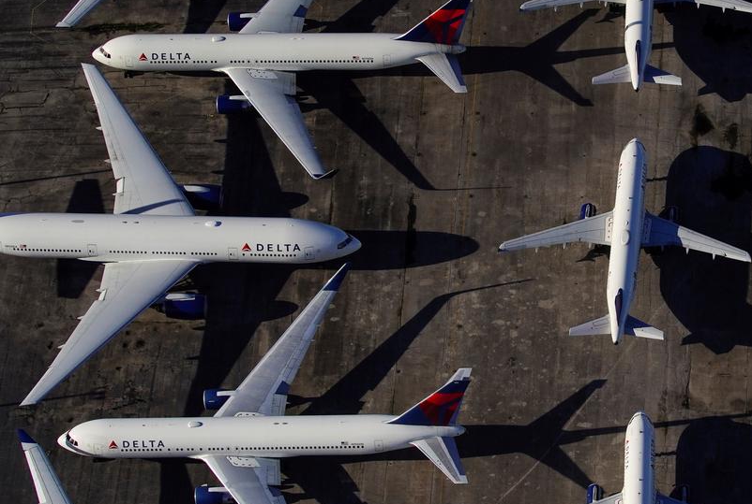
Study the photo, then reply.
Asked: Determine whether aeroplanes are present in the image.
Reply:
Yes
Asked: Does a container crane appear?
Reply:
No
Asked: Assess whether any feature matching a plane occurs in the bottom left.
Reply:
Yes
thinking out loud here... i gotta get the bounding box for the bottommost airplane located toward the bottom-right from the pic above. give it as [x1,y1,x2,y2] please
[583,412,697,504]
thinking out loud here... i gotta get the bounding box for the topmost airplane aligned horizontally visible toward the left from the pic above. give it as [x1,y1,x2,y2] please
[93,0,470,181]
